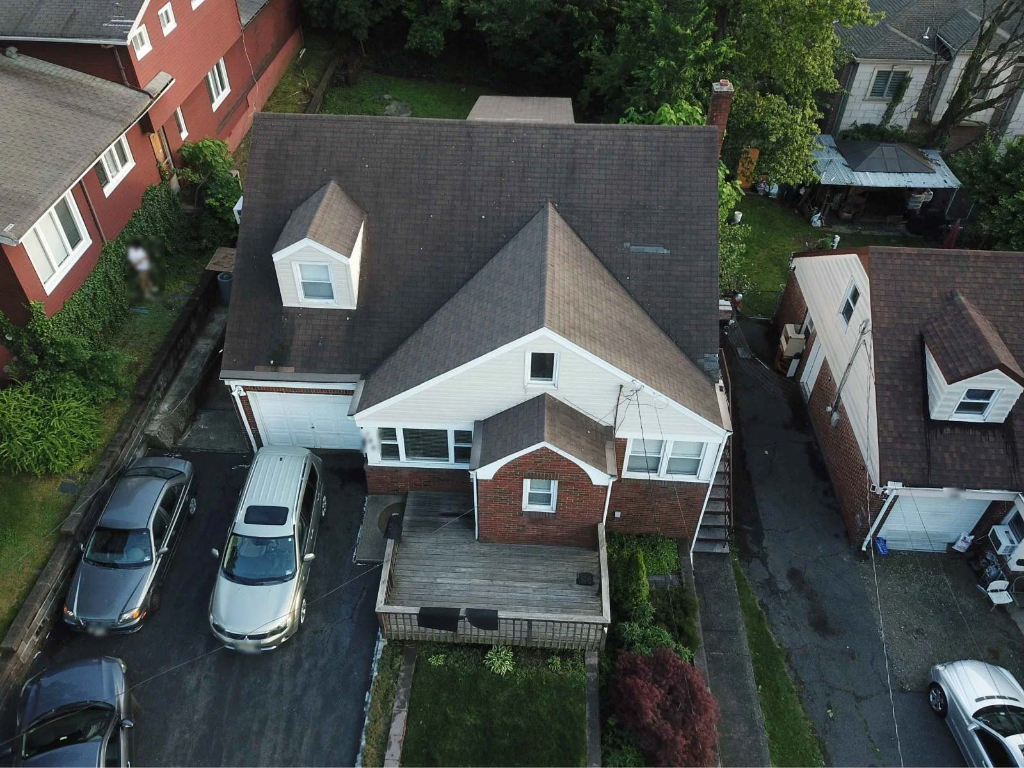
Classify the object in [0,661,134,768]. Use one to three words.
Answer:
car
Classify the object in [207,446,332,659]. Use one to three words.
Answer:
car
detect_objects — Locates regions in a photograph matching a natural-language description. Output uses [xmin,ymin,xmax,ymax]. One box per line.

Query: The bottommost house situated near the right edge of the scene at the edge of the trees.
[780,249,1024,560]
